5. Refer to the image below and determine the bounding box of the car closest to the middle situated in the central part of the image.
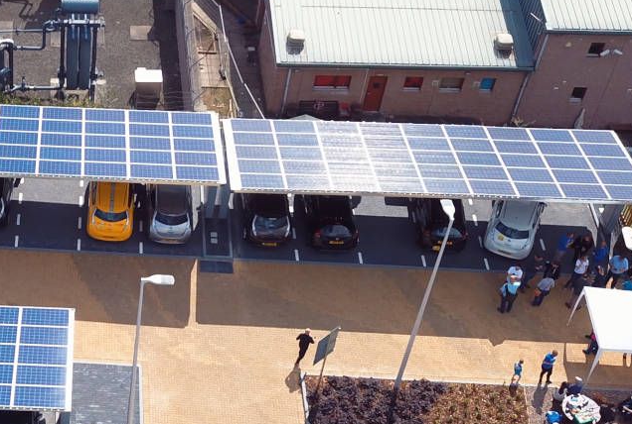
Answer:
[301,200,356,247]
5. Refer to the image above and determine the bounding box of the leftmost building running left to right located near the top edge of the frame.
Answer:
[246,0,533,121]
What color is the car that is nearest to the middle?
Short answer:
black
